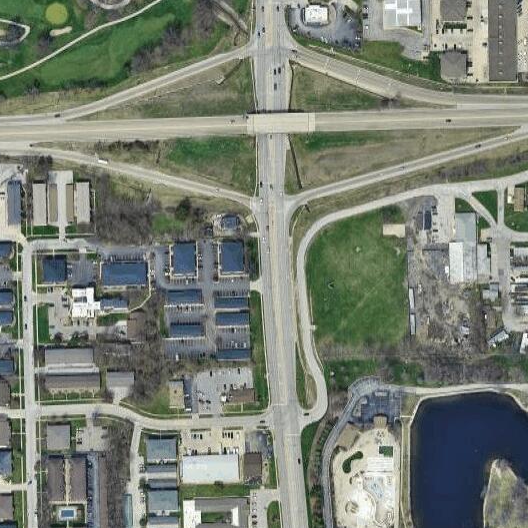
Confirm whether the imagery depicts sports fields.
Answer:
Yes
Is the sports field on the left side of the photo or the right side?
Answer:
right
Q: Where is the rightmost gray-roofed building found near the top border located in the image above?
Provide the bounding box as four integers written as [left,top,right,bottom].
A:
[488,0,516,81]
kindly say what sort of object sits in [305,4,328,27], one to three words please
building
